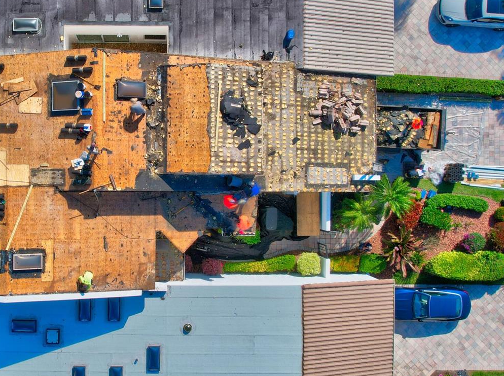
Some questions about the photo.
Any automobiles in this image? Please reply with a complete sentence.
Yes, this view includes an automobile.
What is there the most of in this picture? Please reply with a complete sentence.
For the most part, this view shows buildings.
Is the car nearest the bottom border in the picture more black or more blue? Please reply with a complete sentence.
The color of the car nearest the bottom border is blue.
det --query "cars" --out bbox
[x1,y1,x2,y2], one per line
[395,285,472,325]
[433,0,504,32]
